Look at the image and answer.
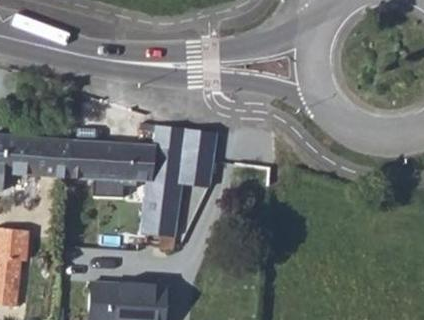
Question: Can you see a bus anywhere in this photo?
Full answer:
Yes, this view includes a bus.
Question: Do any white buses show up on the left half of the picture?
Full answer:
Yes, the scene does show a white bus on the left half of the picture.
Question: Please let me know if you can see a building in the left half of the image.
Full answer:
Yes, I can see a building in the left half of the image.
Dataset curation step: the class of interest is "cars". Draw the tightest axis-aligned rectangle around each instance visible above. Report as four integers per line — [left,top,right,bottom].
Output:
[145,48,164,58]
[68,264,88,274]
[93,258,118,269]
[98,44,122,54]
